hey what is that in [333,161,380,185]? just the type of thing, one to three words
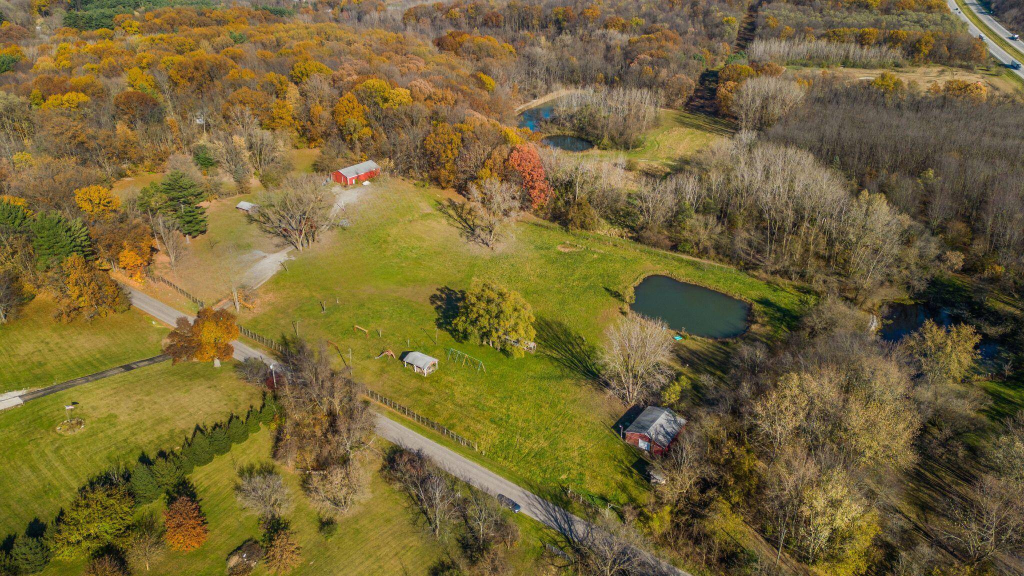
barn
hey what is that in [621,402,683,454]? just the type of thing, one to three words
shed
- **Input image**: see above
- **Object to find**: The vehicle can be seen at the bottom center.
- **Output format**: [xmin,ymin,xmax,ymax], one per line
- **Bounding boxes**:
[499,491,521,509]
